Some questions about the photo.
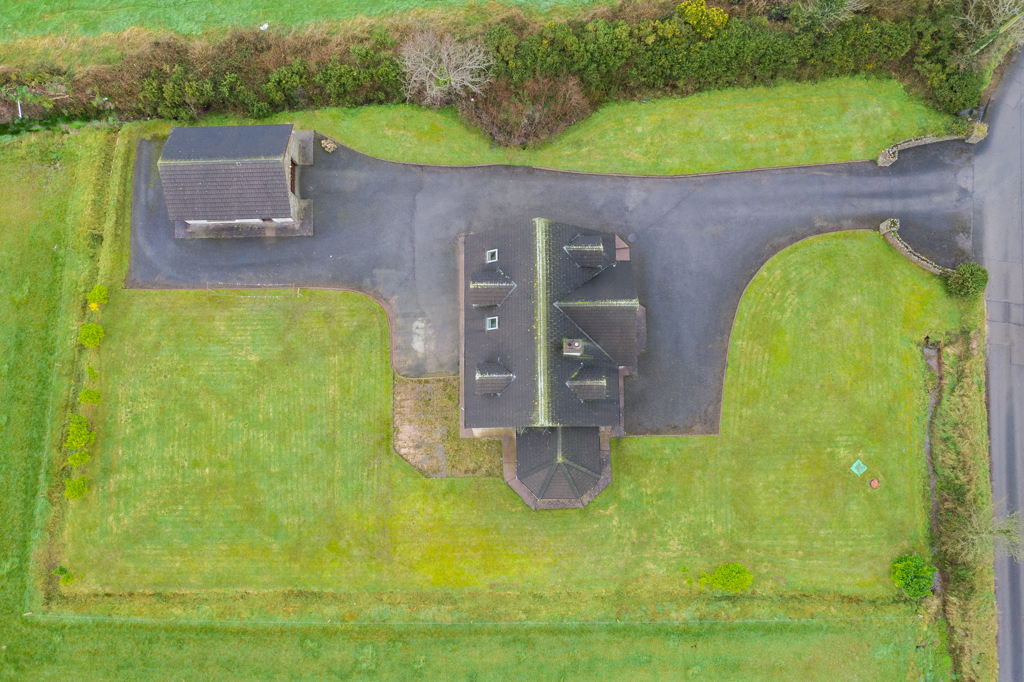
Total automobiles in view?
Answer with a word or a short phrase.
0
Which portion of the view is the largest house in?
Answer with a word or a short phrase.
center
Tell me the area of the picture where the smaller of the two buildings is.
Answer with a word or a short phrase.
top left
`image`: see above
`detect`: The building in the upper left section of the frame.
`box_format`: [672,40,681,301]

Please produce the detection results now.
[156,122,301,225]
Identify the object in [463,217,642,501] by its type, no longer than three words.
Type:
house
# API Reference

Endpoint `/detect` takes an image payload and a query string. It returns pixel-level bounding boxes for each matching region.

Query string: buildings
[156,122,301,225]
[463,217,642,501]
